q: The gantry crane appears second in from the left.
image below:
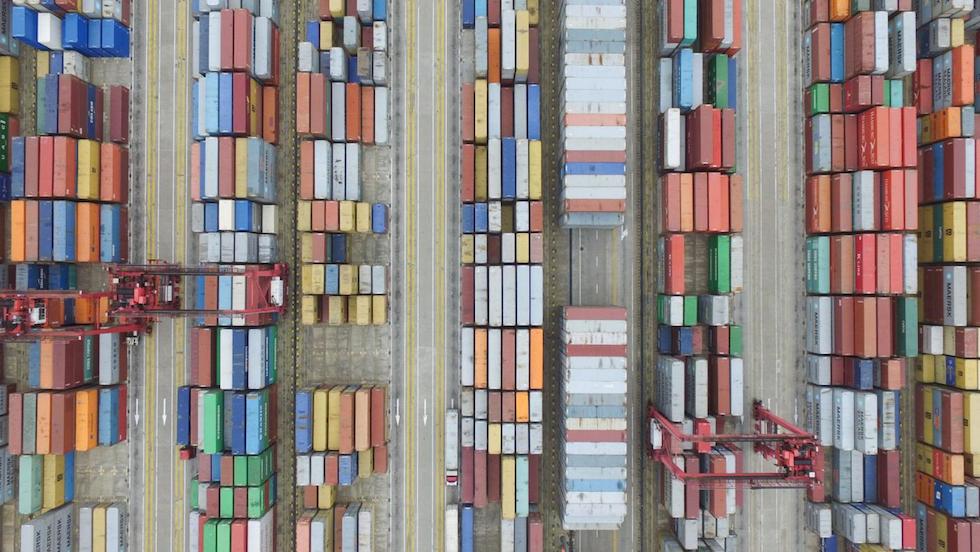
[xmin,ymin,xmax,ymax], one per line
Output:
[112,258,292,322]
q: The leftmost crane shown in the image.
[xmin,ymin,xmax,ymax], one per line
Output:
[0,278,155,343]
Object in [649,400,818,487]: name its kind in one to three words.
container crane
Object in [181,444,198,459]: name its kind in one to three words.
vehicle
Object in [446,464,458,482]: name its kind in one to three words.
vehicle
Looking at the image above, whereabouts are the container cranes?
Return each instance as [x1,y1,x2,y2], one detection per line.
[649,400,818,487]
[112,258,292,322]
[0,278,155,343]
